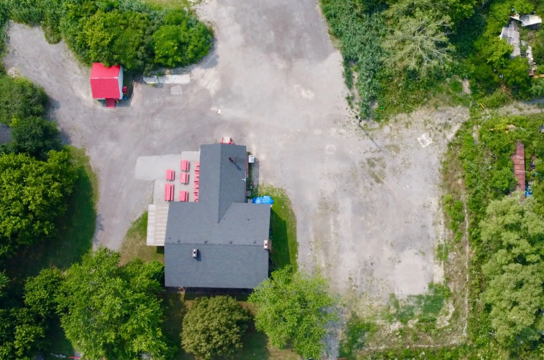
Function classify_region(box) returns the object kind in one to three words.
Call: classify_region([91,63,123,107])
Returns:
shed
